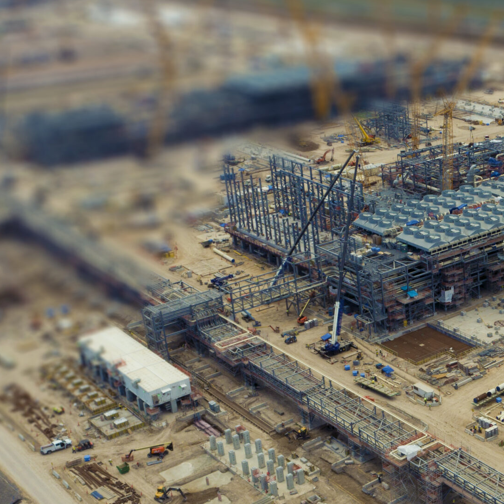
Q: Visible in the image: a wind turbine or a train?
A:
train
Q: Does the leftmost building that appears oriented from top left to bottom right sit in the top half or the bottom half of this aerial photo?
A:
bottom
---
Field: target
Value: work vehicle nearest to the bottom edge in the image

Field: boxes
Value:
[152,480,196,502]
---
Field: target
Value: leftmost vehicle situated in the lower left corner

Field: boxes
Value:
[41,439,70,453]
